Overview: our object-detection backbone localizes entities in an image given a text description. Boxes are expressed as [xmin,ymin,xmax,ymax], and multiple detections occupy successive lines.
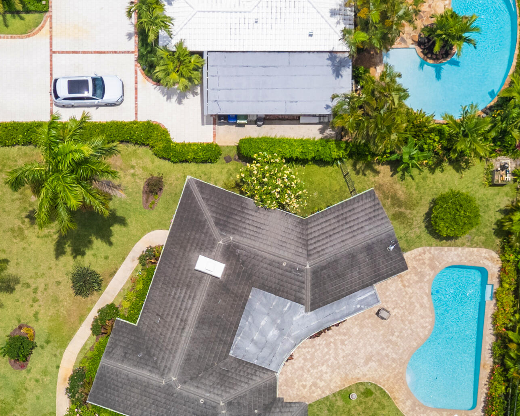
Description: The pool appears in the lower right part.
[403,262,492,412]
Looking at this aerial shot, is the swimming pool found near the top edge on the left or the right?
right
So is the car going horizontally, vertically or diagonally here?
horizontally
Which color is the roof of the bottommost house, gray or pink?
gray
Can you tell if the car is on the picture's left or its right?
left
